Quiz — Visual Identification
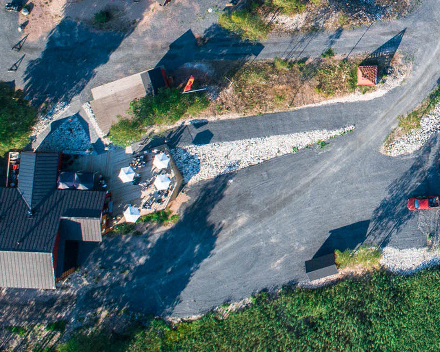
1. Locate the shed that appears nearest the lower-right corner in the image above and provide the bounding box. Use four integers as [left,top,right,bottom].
[304,252,340,280]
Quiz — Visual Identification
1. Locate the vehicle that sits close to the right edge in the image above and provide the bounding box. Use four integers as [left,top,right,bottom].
[406,196,439,211]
